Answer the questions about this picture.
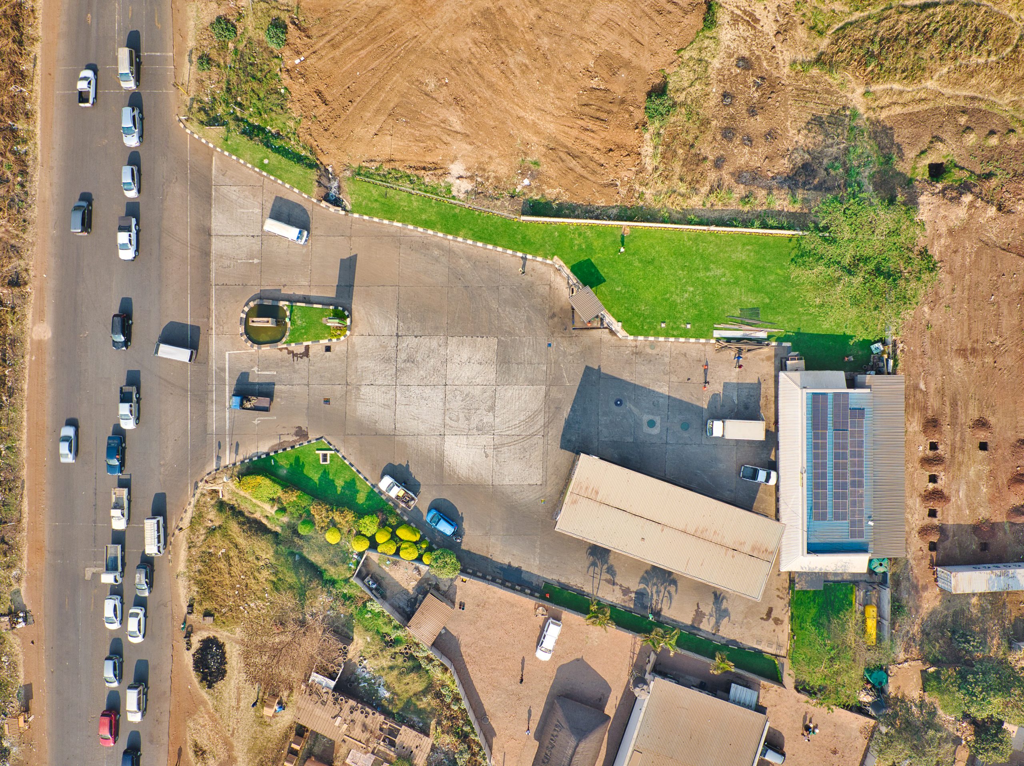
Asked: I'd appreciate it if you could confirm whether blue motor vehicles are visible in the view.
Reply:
Yes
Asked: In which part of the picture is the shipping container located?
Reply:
bottom right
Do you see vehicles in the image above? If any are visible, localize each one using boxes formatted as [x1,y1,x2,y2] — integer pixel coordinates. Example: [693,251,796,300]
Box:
[125,683,147,722]
[110,488,131,529]
[142,516,165,556]
[121,747,142,766]
[76,69,98,109]
[103,595,124,629]
[99,710,120,746]
[537,617,563,660]
[111,314,133,349]
[134,562,154,596]
[103,654,124,687]
[105,437,127,475]
[127,605,147,642]
[230,391,274,410]
[118,386,140,428]
[117,217,139,261]
[736,465,778,486]
[379,474,419,510]
[425,508,460,538]
[156,340,200,362]
[71,200,94,236]
[758,740,785,762]
[121,165,141,198]
[117,45,140,90]
[101,543,124,586]
[262,217,309,244]
[122,106,144,146]
[59,426,81,464]
[705,414,769,440]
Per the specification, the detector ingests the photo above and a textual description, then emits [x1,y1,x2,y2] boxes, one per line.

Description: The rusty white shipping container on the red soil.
[936,561,1024,594]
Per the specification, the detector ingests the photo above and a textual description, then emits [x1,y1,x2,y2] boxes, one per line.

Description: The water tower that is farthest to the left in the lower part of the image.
[619,654,651,700]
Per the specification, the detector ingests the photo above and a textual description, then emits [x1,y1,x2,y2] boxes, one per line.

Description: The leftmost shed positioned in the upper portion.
[569,286,604,323]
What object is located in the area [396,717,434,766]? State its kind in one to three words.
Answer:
shed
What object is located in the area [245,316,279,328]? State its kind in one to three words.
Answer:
fountain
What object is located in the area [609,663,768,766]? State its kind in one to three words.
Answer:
building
